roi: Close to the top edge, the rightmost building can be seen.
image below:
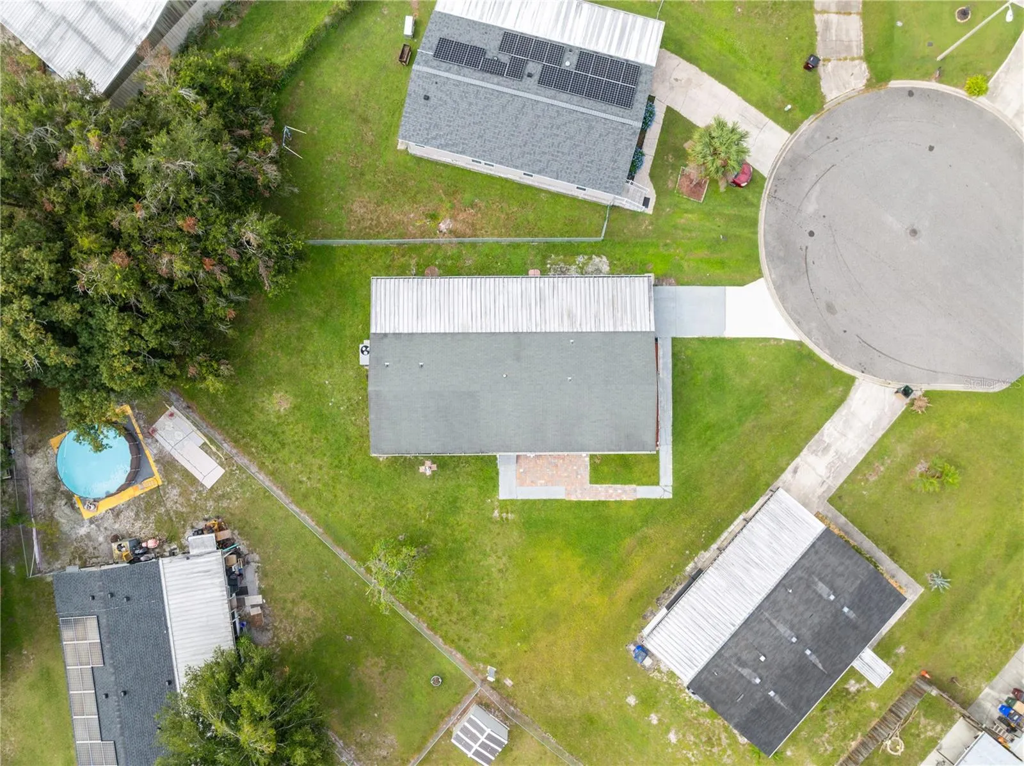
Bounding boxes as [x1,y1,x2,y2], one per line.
[401,0,666,204]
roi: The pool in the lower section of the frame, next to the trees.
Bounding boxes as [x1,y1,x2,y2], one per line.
[55,425,142,501]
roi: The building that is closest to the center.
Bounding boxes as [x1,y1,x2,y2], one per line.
[368,275,659,456]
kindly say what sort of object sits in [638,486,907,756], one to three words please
house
